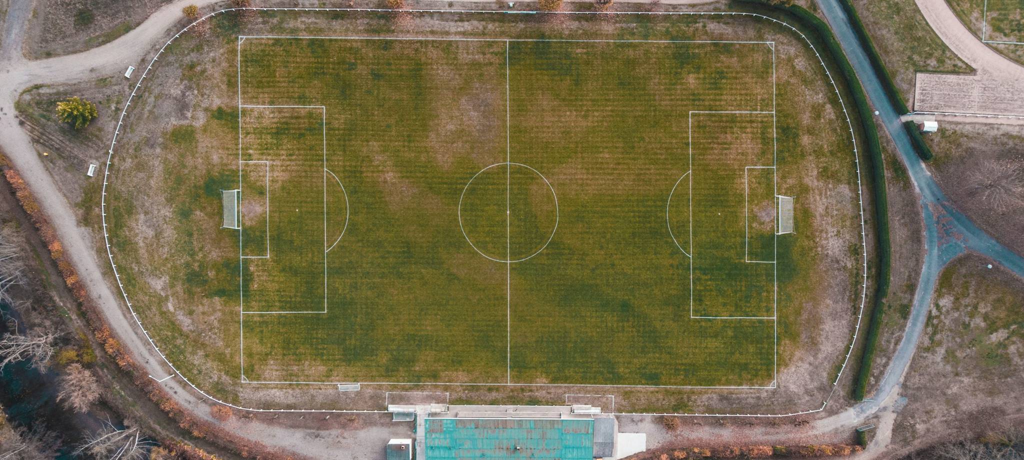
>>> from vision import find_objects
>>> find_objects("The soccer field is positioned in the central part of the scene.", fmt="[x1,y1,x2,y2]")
[235,31,780,406]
